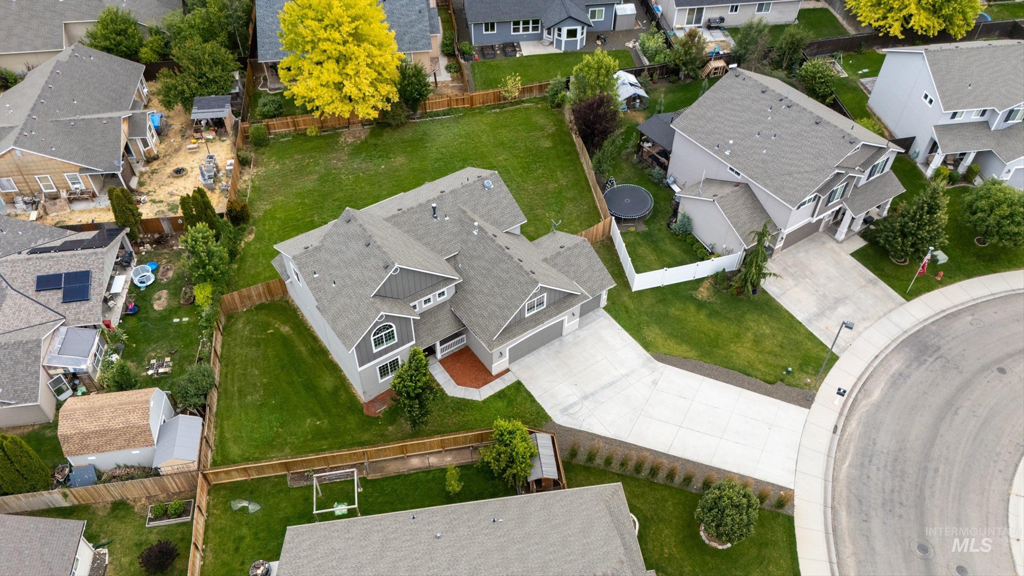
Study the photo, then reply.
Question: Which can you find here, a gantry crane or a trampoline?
trampoline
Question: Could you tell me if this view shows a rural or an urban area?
urban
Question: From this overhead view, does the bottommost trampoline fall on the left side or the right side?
left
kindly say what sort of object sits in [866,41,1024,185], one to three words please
house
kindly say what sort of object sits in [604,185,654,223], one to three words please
trampoline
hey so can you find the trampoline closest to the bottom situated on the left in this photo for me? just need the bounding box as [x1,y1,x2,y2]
[127,264,157,291]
